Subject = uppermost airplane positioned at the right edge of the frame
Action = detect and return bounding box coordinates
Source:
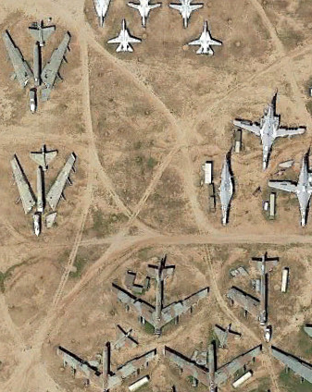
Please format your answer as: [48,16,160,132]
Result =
[233,97,305,171]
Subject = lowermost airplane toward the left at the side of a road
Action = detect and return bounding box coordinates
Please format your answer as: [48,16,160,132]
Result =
[58,344,155,392]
